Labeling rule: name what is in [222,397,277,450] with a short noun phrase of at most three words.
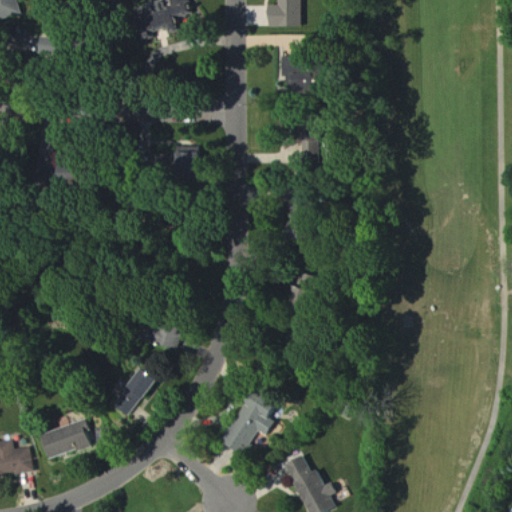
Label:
house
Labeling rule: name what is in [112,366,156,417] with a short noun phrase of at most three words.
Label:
house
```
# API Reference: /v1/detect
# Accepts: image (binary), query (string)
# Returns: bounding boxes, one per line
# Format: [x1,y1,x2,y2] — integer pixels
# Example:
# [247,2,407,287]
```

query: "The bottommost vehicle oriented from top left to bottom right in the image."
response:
[177,461,198,483]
